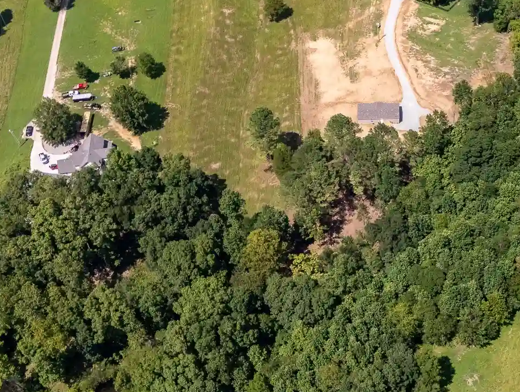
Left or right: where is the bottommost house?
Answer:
left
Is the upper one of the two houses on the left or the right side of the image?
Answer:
right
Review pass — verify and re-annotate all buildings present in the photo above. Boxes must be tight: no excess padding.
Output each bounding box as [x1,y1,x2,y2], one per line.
[358,100,399,127]
[57,136,111,177]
